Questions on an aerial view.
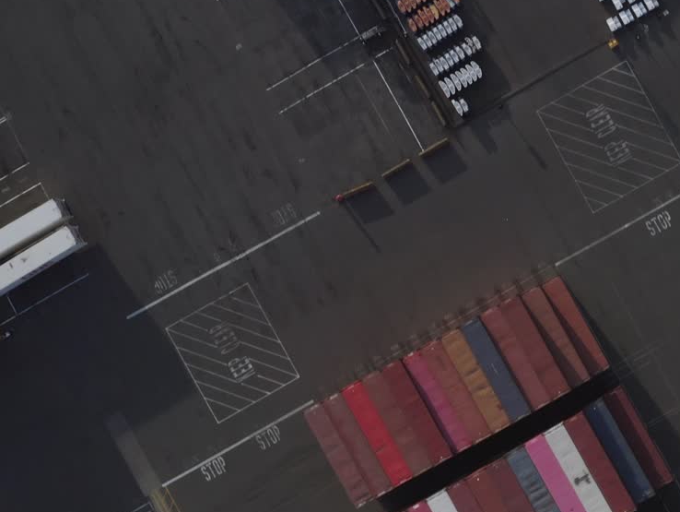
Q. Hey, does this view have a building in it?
No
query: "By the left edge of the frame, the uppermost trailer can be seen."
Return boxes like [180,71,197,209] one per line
[0,199,77,259]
